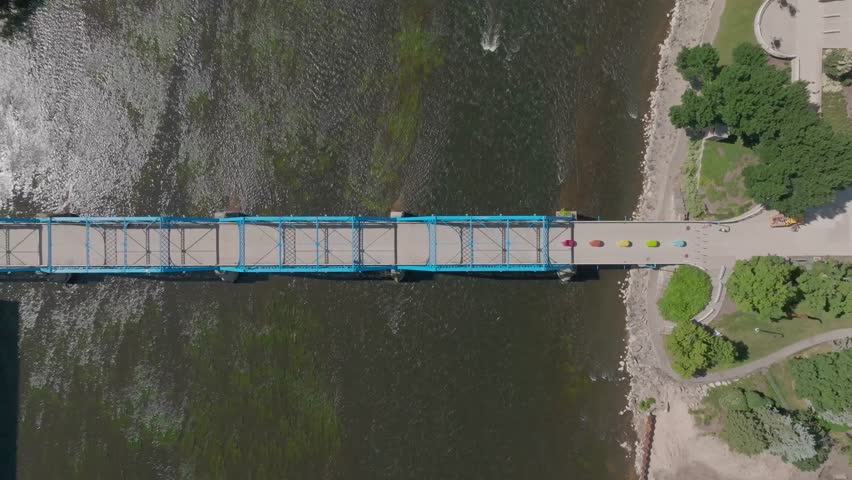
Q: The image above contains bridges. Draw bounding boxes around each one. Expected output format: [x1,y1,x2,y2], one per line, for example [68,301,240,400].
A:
[0,213,707,281]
